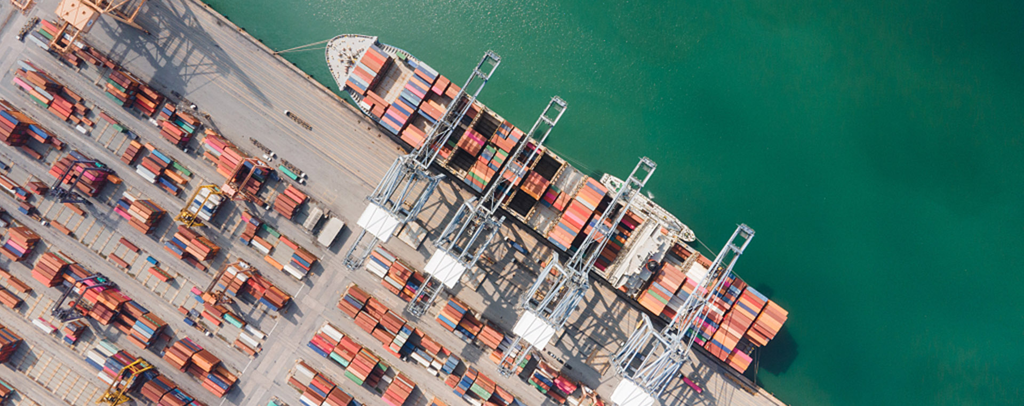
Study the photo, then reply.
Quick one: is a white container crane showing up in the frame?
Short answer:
Yes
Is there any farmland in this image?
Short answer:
No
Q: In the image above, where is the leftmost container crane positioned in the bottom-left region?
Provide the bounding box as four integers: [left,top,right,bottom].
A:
[51,273,112,321]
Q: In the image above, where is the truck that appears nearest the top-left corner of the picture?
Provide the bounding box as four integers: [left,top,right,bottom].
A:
[17,15,38,41]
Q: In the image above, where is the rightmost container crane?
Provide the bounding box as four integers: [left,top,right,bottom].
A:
[607,222,756,406]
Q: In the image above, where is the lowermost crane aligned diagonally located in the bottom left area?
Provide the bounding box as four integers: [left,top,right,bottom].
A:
[97,359,155,406]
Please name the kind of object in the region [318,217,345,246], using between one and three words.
shed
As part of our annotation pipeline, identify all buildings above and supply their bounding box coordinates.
[318,217,345,246]
[304,208,324,230]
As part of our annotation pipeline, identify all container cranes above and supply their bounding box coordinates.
[405,93,569,319]
[50,158,111,205]
[97,359,155,406]
[495,157,658,381]
[340,49,503,273]
[0,0,44,34]
[201,258,254,306]
[174,184,225,230]
[607,222,756,406]
[43,0,153,66]
[51,273,112,321]
[220,157,272,203]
